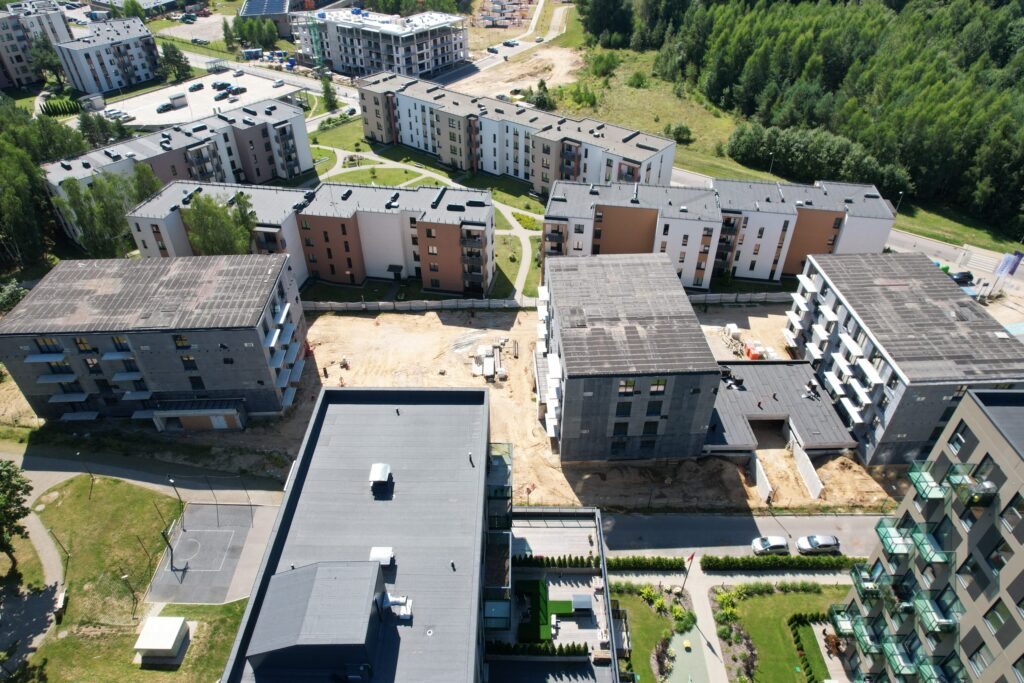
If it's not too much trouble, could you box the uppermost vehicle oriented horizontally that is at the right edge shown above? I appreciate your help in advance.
[947,269,978,282]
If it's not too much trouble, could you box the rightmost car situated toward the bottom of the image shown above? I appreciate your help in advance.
[797,534,843,555]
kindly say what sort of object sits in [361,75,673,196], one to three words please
building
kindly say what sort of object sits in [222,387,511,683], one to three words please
building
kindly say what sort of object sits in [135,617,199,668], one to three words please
shed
